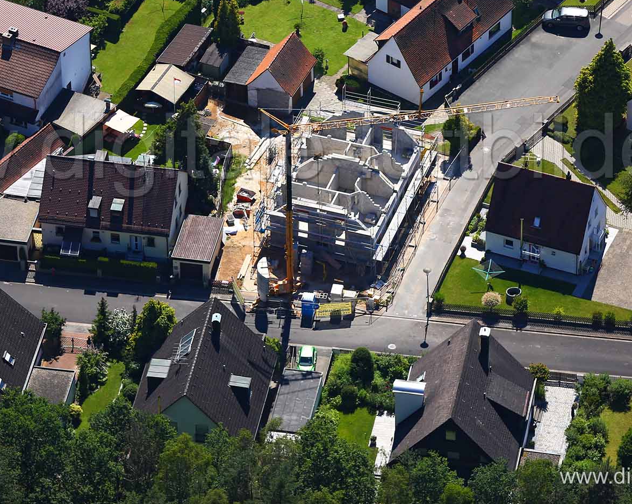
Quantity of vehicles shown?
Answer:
2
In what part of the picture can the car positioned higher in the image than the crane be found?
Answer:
top right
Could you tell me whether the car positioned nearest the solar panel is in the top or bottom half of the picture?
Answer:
bottom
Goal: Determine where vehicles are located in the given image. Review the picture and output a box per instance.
[292,338,320,370]
[541,9,591,32]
